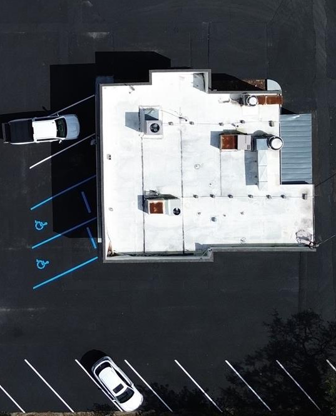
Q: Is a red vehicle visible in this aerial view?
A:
No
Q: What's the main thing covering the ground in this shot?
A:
paved ground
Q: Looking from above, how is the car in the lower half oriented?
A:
diagonally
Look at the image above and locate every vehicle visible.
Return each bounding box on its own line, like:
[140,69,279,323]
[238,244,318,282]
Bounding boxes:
[92,355,143,414]
[0,113,81,144]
